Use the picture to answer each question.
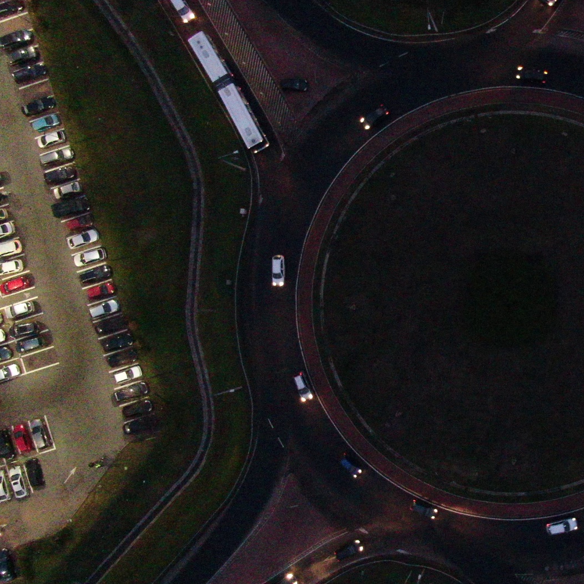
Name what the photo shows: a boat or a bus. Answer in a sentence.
Looking from above, you can make out a bus.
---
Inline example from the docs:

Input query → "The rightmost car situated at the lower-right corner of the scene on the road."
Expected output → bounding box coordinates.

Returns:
[548,517,576,534]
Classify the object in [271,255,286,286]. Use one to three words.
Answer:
car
